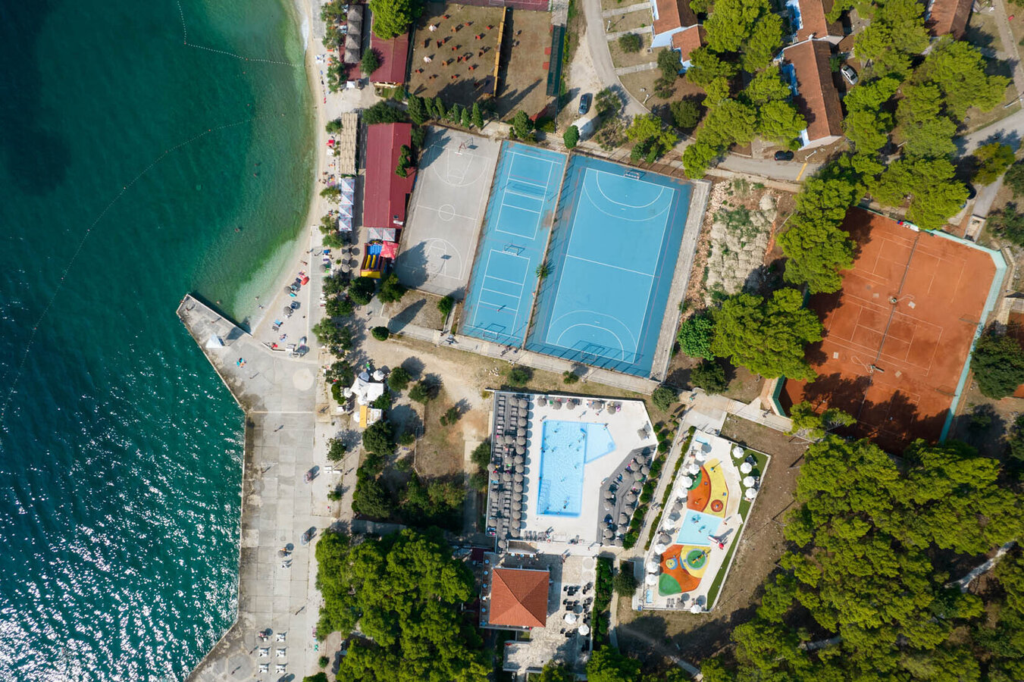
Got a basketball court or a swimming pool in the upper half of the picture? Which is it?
basketball court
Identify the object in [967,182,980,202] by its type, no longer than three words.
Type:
vehicle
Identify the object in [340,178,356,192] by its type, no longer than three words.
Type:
umbrella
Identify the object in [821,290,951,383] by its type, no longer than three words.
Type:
tennis court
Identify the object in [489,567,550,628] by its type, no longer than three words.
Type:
building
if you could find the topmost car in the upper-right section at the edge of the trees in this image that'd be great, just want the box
[842,64,857,85]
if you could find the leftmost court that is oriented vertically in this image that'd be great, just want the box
[394,125,501,298]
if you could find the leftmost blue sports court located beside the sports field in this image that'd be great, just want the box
[457,140,568,348]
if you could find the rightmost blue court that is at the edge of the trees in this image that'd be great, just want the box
[525,154,694,378]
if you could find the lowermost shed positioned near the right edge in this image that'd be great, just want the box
[963,214,986,242]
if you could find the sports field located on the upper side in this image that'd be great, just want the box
[539,161,683,369]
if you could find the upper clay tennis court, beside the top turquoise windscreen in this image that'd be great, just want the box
[848,218,976,311]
